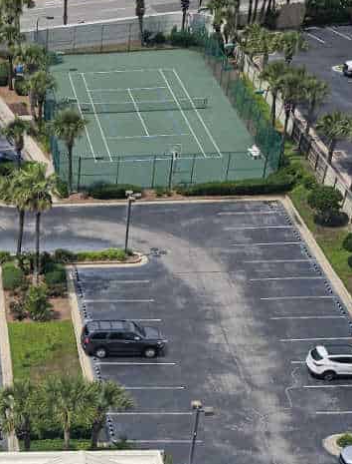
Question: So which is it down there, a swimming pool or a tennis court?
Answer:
tennis court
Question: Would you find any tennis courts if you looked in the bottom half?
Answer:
No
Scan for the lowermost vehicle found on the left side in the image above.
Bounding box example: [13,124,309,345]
[82,320,163,358]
